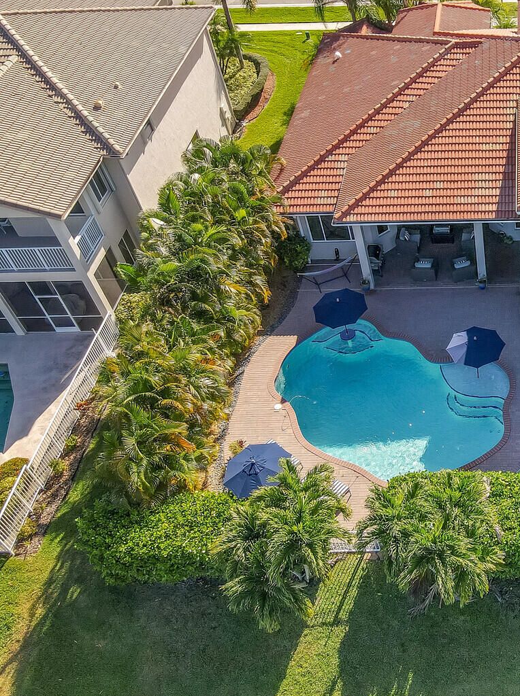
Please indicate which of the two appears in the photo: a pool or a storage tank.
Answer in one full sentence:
It is a pool that can be seen here.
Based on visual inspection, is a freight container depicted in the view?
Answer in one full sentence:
No, the frame has no freight container in it.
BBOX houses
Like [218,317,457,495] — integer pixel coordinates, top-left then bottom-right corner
[262,0,520,292]
[0,0,240,333]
